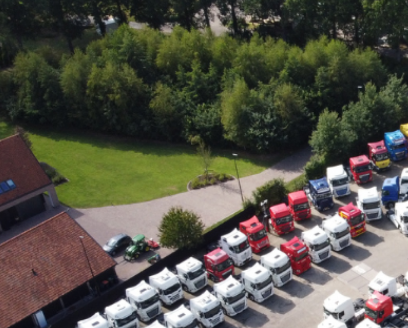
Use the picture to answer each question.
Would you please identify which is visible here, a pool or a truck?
truck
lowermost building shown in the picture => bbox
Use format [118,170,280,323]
[0,209,124,328]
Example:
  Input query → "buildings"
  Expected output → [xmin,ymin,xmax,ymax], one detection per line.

[0,133,57,225]
[0,209,124,328]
